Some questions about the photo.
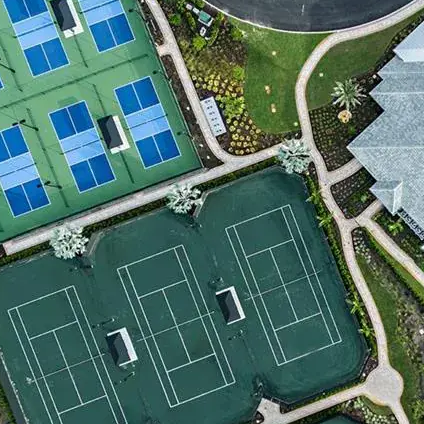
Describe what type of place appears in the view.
sports ground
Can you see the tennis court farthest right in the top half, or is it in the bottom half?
bottom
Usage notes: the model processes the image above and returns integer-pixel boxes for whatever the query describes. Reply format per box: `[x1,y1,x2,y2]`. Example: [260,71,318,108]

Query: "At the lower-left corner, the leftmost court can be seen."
[6,283,128,424]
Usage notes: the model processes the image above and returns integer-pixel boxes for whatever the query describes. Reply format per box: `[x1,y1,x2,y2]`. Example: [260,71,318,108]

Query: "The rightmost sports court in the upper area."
[114,74,181,168]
